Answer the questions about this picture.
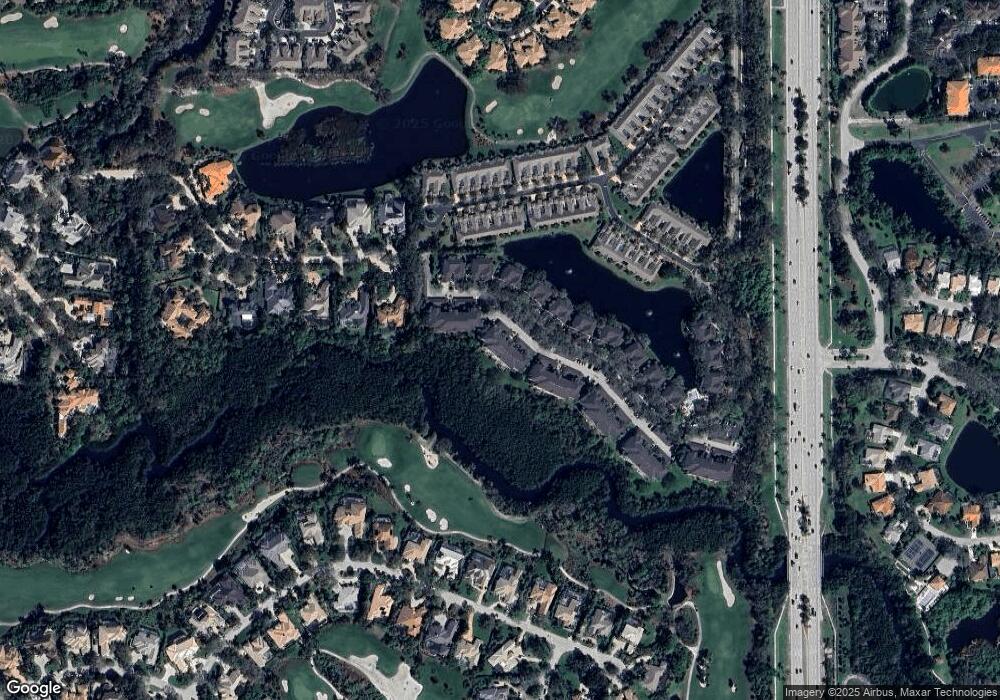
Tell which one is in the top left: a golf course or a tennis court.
golf course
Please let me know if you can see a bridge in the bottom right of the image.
Yes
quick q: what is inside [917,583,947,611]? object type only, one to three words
swimming pool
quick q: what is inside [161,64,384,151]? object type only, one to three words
golf course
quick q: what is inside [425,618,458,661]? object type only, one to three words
house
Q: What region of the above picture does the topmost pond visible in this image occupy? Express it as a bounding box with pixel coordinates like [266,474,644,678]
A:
[869,67,931,114]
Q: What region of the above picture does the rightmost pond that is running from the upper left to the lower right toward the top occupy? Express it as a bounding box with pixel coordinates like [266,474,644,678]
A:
[870,156,957,240]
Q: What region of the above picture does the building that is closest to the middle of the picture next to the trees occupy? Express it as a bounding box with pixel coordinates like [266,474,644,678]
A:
[478,321,532,371]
